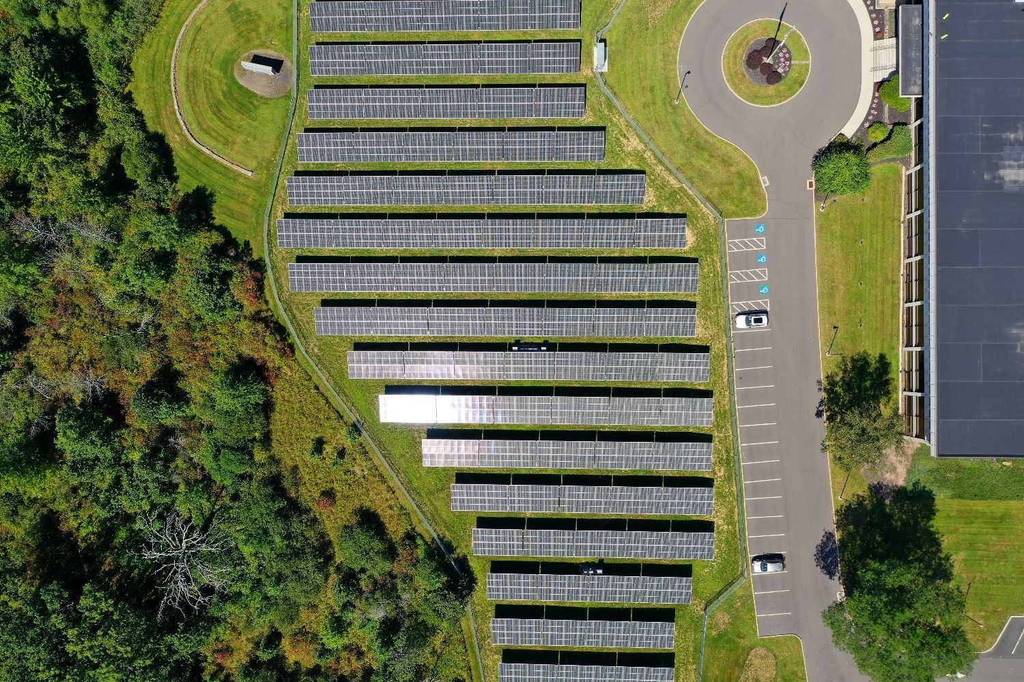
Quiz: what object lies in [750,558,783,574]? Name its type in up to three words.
car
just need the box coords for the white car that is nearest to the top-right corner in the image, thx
[734,313,768,328]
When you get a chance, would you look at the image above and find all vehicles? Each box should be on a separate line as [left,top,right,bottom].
[750,558,783,574]
[734,313,768,328]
